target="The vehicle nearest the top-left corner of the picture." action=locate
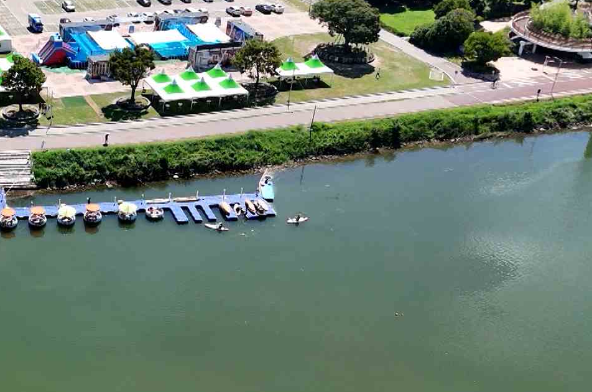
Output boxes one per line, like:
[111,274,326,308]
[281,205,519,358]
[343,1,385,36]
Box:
[27,10,43,32]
